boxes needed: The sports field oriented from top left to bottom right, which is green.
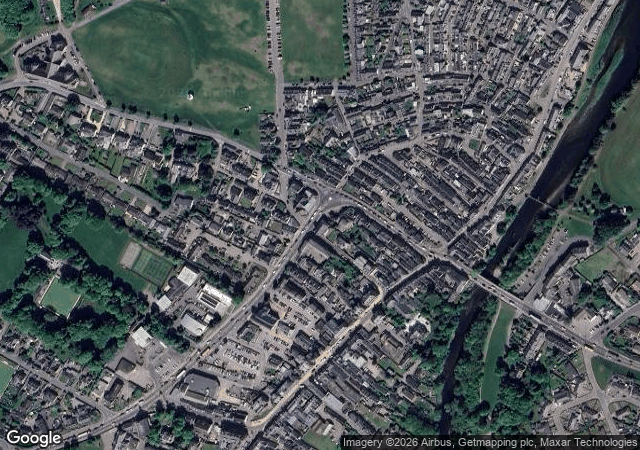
[74,216,158,296]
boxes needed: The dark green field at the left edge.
[0,218,28,301]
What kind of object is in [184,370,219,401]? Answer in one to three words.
building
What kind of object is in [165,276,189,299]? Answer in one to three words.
building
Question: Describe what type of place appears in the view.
residential area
